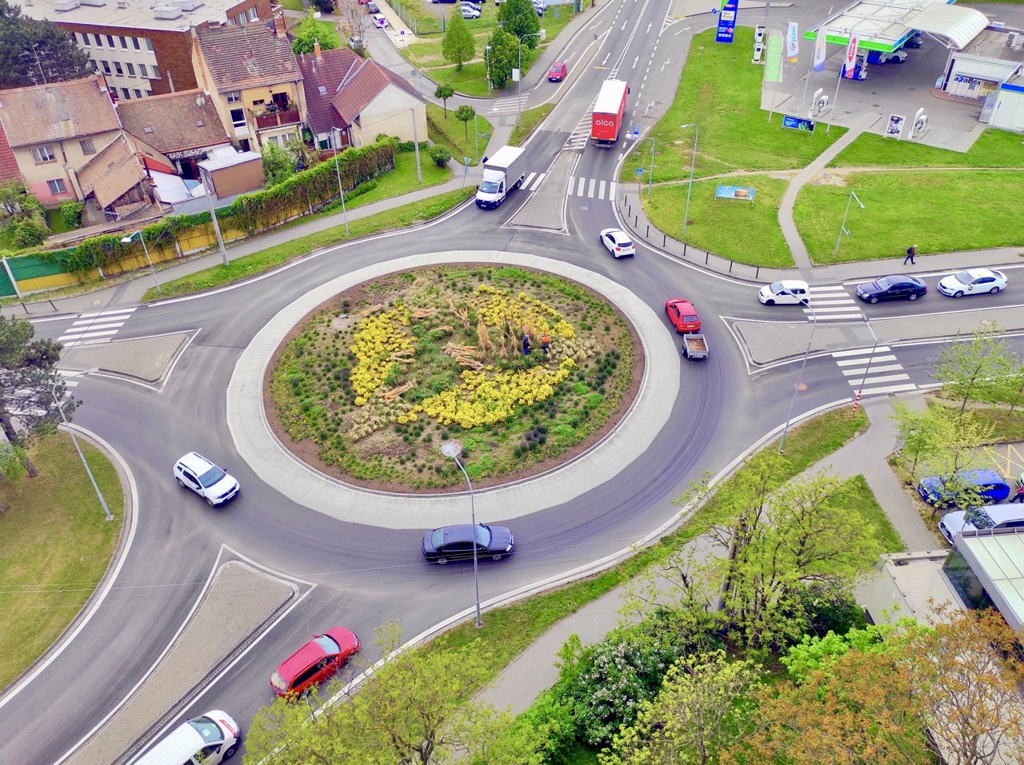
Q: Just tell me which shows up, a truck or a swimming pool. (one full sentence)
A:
I can see a truck in this picture.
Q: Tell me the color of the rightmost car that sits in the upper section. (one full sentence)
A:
From above, the rightmost car that sits in the upper section appears white.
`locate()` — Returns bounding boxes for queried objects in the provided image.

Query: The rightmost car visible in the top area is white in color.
[937,266,1009,297]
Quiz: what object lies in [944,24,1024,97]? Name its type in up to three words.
building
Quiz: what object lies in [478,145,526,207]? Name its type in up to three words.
truck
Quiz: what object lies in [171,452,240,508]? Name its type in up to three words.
car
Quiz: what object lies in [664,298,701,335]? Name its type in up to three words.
car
